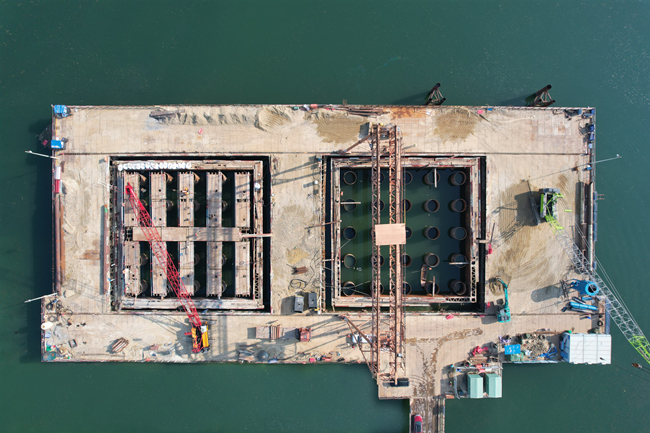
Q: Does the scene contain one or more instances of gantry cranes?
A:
Yes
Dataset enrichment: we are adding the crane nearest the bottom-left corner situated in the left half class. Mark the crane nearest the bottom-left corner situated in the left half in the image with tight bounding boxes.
[122,179,216,358]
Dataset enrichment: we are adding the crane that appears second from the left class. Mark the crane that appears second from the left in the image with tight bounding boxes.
[335,124,408,385]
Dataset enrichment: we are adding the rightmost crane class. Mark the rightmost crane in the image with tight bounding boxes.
[528,185,650,373]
